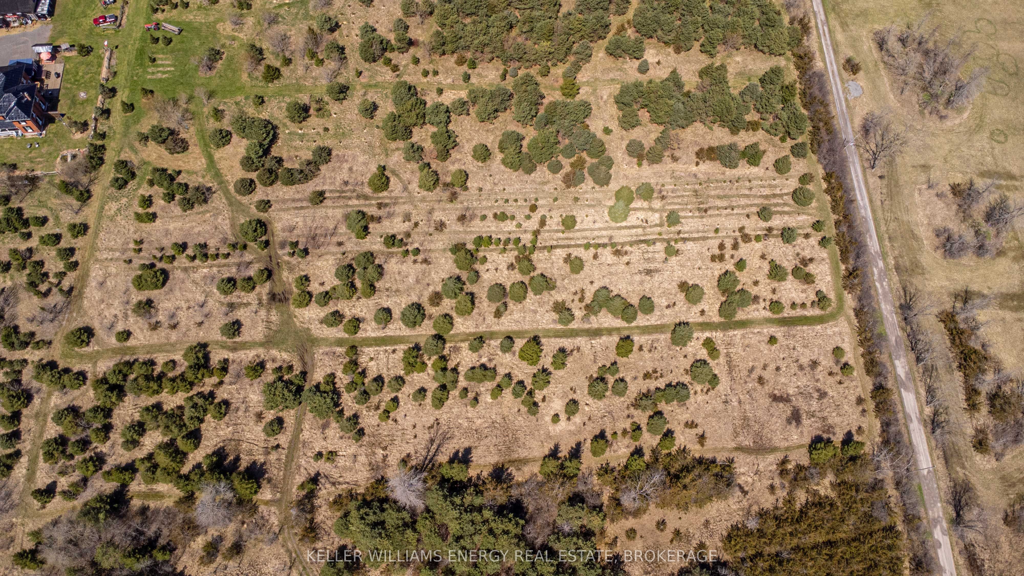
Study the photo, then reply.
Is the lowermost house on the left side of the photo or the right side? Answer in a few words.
left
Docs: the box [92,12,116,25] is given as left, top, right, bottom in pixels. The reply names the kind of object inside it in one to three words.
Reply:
vehicle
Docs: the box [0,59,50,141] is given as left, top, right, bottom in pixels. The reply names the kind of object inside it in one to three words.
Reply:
house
